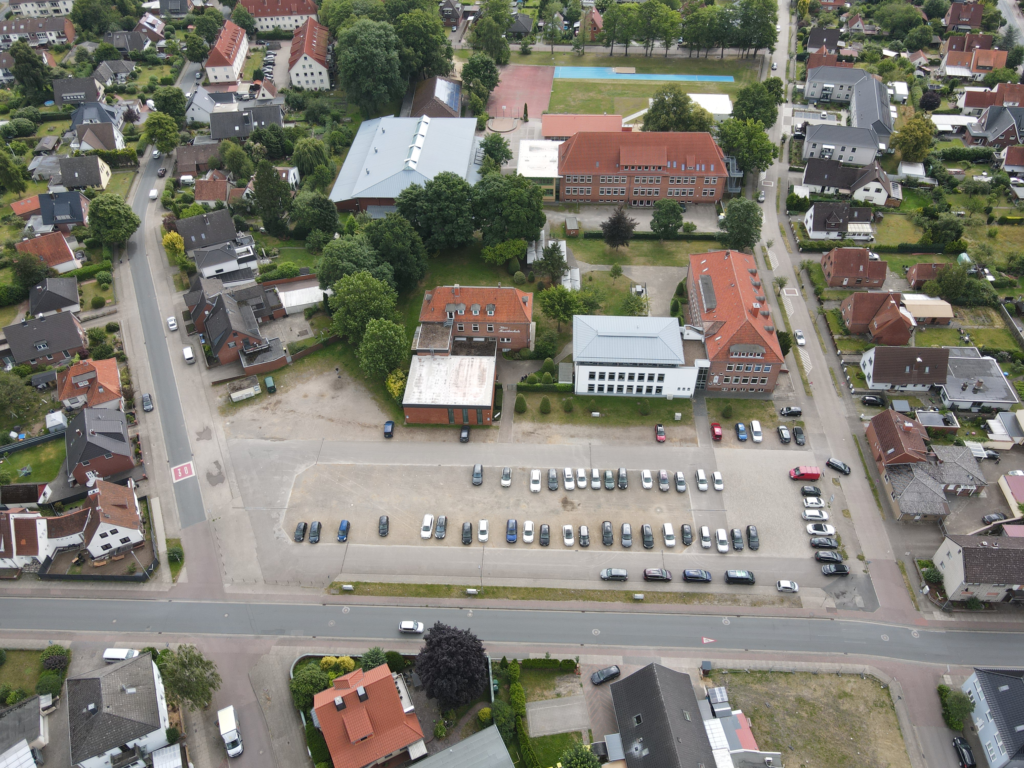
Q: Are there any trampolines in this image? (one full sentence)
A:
No, this view has no trampoline in it.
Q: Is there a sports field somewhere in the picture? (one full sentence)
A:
Yes, the photo shows a sports field.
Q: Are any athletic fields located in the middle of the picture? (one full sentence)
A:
No, the scene shows no athletic field in the middle of the picture.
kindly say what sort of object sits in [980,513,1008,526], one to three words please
vehicle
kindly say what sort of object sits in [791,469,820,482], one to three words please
vehicle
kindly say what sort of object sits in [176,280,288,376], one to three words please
house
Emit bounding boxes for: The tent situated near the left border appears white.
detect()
[44,410,68,429]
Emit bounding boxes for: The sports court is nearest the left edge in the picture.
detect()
[486,65,554,119]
